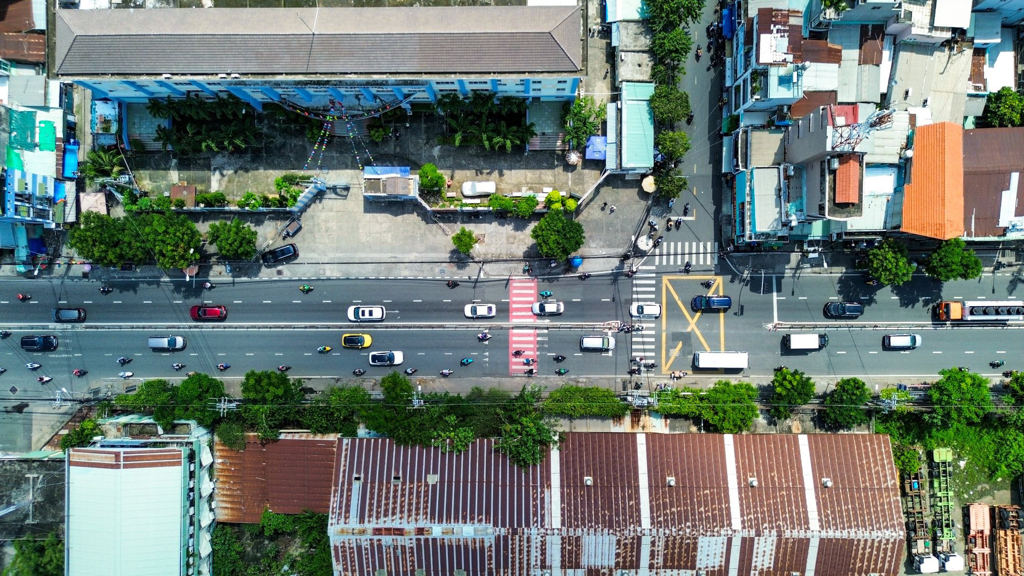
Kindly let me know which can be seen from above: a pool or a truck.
truck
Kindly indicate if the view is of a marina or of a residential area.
residential area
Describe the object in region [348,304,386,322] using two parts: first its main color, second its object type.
white car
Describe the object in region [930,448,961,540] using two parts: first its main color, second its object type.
green trailer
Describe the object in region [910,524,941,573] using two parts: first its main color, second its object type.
white truck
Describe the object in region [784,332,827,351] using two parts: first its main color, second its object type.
white vehicle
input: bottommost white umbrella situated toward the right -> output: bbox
[637,235,653,251]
